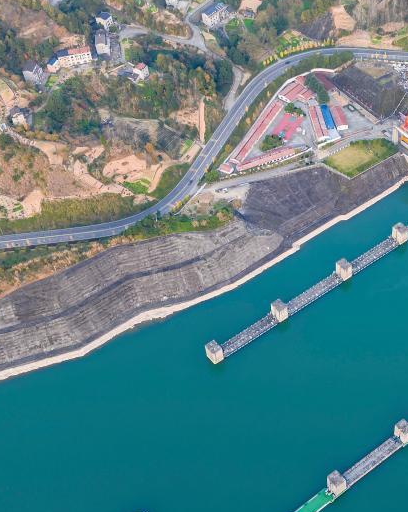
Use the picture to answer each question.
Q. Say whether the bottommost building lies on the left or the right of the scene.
right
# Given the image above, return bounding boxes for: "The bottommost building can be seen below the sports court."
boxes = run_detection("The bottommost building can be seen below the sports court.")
[237,147,297,177]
